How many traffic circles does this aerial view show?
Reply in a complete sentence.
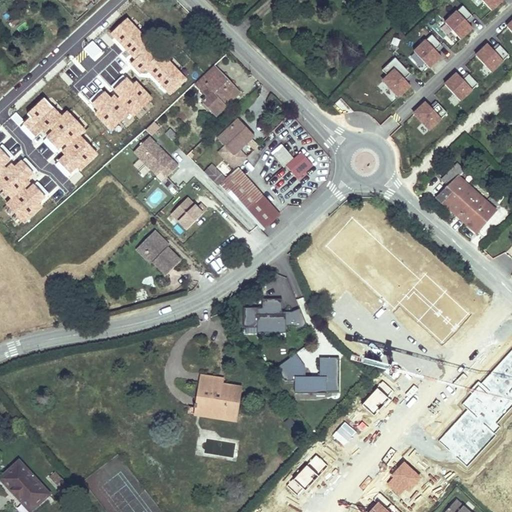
There is 1 traffic circle in the image.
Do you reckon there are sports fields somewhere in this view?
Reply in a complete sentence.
Yes, the frame does contain a sports field.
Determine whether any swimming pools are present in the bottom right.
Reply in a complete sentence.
No, there is no swimming pool in the bottom right.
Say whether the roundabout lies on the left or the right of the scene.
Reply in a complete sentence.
You can find the roundabout on the right side of the picture.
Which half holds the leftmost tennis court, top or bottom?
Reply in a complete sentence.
The leftmost tennis court sits in the bottom half of the picture.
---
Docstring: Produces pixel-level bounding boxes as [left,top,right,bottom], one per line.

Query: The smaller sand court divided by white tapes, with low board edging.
[399,274,472,346]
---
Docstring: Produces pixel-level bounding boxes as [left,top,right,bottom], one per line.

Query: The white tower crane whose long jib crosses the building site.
[351,354,512,400]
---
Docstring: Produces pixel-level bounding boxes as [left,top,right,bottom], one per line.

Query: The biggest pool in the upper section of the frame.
[145,186,168,210]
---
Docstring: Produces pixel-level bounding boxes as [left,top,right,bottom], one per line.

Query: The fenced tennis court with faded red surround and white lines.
[86,455,162,512]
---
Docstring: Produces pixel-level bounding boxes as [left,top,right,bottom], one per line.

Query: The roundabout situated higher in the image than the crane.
[334,132,396,193]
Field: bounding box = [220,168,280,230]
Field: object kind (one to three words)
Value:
building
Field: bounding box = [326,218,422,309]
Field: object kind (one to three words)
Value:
sports field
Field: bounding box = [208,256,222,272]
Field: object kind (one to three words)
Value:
vehicle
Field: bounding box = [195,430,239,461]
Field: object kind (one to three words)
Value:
swimming pool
